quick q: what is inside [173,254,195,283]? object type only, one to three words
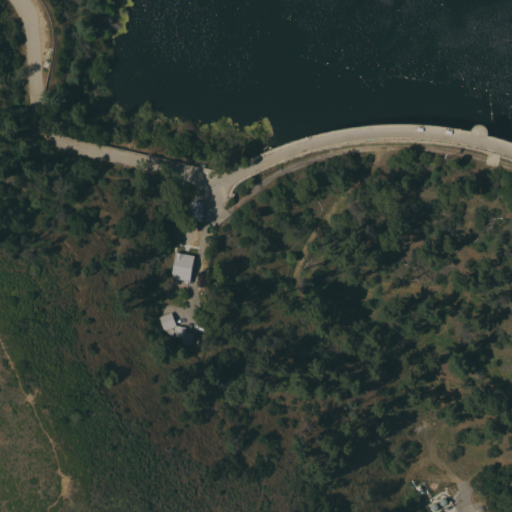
house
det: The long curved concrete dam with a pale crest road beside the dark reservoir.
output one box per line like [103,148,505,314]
[234,124,512,184]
